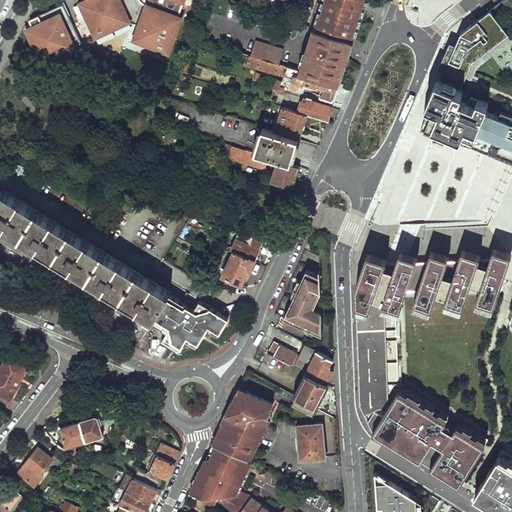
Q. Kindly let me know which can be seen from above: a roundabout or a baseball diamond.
roundabout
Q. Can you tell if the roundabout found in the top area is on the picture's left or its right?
right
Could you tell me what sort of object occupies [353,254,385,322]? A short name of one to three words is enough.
building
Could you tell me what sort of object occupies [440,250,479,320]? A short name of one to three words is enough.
building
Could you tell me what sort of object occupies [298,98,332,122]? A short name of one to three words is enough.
house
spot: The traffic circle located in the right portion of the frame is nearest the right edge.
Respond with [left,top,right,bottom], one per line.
[347,42,416,160]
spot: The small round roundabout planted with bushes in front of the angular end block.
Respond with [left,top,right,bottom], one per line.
[163,364,225,432]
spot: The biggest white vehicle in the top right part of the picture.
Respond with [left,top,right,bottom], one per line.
[400,95,413,122]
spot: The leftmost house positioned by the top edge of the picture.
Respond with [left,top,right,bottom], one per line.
[24,2,82,64]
